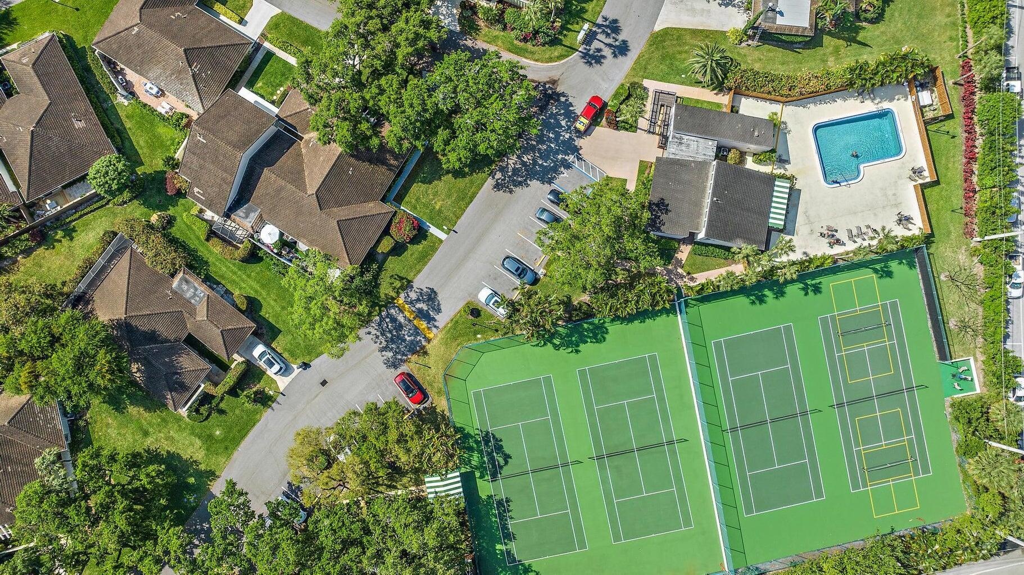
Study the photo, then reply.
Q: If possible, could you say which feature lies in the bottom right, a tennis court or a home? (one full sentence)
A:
Looking in the bottom right, you will find a tennis court.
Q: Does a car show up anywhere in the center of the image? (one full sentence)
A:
Yes, in the center of the image there is a car.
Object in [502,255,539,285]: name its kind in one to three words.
car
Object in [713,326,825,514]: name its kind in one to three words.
tennis court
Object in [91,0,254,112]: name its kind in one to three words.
house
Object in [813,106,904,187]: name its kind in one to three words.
swimming pool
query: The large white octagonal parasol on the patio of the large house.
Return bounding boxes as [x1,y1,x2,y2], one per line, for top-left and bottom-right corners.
[261,224,281,244]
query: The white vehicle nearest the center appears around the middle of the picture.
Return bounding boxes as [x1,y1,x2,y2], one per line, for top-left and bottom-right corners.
[477,289,509,320]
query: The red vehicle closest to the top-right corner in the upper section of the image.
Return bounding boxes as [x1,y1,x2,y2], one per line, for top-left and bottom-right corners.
[575,93,602,135]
